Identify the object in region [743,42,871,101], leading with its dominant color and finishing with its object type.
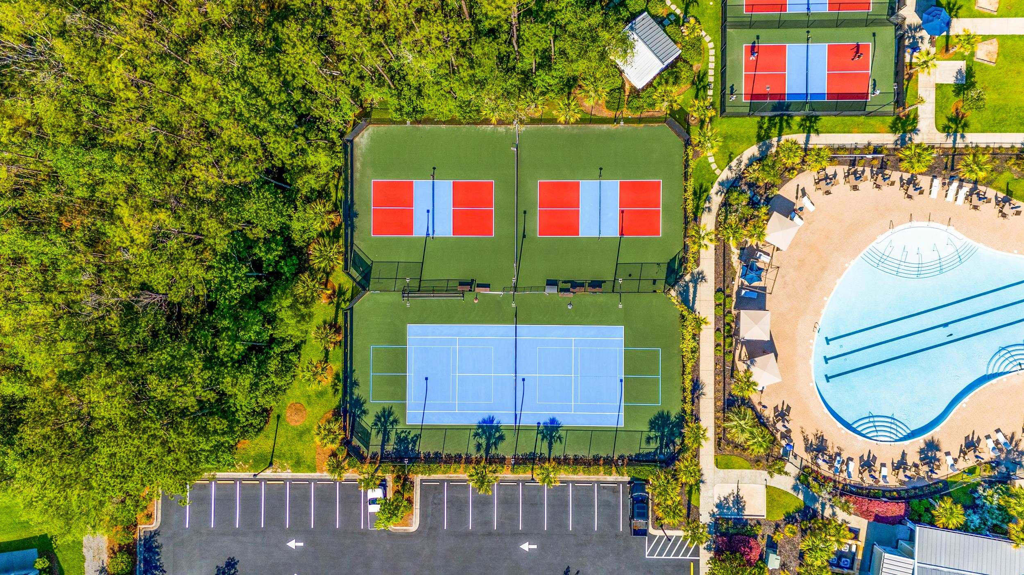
red sports court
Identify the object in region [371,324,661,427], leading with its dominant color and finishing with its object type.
blue tennis court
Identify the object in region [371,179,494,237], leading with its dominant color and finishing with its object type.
red sports court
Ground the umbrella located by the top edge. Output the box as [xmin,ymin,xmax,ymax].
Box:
[920,8,948,36]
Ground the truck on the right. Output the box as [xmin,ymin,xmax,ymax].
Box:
[628,481,652,539]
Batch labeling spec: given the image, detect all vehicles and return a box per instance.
[628,481,652,539]
[363,482,387,532]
